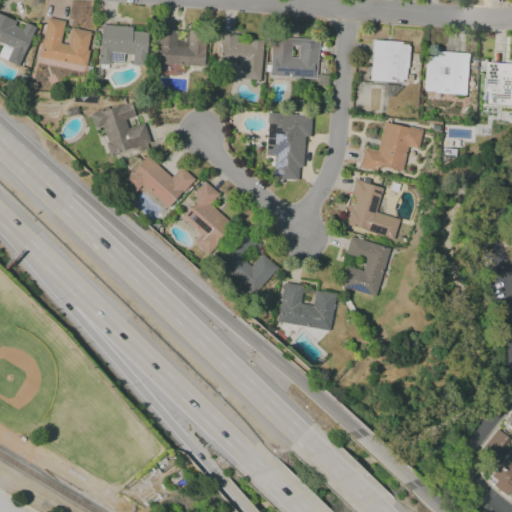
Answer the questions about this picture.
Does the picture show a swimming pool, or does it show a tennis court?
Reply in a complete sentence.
It is a swimming pool that can be seen here.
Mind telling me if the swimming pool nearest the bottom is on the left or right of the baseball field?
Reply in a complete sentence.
Relative to the baseball field, the swimming pool nearest the bottom lies to the right.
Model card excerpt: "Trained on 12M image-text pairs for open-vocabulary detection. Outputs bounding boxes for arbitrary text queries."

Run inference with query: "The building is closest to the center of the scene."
[232,256,278,291]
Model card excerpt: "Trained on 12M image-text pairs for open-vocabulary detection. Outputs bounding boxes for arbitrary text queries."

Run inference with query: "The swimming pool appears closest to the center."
[172,226,192,246]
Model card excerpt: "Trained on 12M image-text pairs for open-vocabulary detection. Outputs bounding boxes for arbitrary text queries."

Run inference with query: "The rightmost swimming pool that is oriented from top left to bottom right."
[296,332,323,364]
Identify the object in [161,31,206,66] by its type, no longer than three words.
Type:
house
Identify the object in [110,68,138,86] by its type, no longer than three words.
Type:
swimming pool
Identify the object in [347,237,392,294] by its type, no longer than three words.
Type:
house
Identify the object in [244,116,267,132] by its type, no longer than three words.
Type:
swimming pool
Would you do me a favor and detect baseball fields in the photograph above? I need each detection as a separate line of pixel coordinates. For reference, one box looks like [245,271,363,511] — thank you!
[0,270,168,486]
